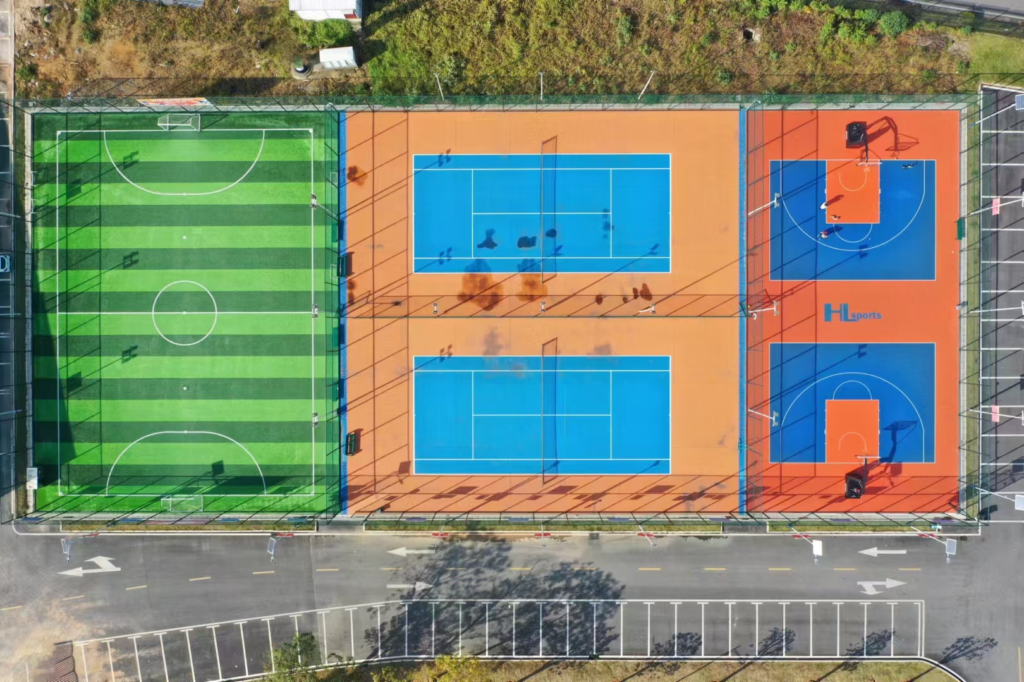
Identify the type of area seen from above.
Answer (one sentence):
The area seen from above is a sports ground.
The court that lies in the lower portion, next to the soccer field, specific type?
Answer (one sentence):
The court that lies in the lower portion, next to the soccer field can be classified as a tennis court.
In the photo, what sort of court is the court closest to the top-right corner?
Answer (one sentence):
What you see as the court closest to the top-right corner is a basketball court.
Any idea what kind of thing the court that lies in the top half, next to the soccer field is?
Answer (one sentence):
The court that lies in the top half, next to the soccer field appears to be a tennis court.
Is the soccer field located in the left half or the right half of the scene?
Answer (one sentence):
It is on the left.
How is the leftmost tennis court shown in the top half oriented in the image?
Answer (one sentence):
The leftmost tennis court shown in the top half runs from left to right in the image.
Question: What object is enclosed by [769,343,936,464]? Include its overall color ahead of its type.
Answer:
blue basketball court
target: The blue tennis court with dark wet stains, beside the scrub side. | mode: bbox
[413,153,671,273]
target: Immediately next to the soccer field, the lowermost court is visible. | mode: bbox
[413,356,671,475]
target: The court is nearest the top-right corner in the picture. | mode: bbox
[769,160,936,281]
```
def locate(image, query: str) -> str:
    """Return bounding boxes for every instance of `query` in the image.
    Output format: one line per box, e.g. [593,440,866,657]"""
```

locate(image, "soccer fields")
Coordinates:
[32,113,342,512]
